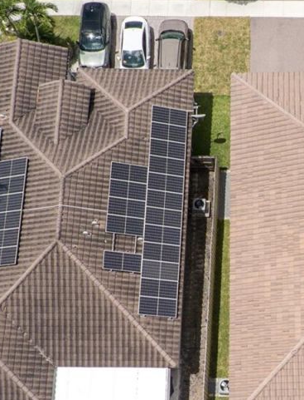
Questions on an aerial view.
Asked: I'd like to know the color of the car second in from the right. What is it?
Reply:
white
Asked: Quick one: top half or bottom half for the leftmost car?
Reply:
top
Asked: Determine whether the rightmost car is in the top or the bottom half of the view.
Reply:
top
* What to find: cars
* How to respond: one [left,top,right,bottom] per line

[76,0,116,70]
[115,8,153,71]
[155,16,192,71]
